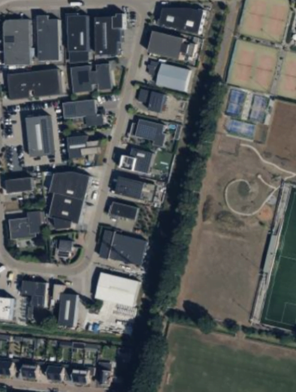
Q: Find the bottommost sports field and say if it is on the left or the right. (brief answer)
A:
right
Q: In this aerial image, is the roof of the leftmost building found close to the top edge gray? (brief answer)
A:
Yes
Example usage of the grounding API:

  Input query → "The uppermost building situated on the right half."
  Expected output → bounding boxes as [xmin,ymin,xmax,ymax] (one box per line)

[159,8,206,33]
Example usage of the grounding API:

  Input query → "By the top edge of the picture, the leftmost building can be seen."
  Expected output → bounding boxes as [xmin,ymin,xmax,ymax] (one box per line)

[3,19,32,65]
